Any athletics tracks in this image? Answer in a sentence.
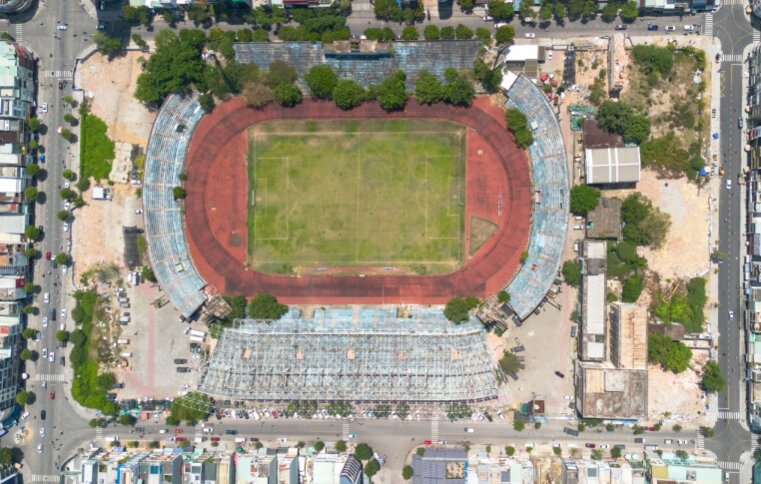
Yes, there is an athletics track in the image.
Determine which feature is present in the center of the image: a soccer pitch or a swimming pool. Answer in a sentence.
There is a soccer pitch in the center of the image.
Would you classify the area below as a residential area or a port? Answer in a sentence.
It's a residential area.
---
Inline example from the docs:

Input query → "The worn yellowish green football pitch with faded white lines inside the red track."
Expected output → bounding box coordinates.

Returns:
[248,119,467,275]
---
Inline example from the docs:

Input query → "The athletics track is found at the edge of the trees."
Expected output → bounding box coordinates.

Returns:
[185,95,530,304]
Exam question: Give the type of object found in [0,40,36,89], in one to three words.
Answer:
house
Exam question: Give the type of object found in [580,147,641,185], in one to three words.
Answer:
building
